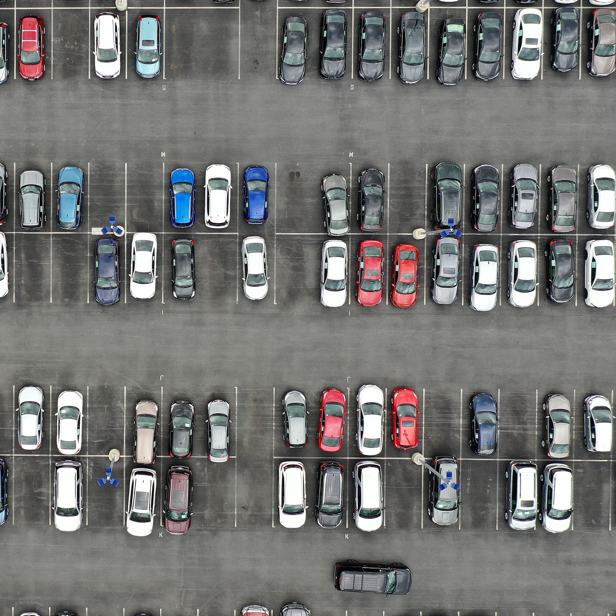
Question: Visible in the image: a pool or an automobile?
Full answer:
The one in the frame is an automobile.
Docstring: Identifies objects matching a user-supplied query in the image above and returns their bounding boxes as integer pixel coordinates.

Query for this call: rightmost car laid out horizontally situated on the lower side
[333,561,413,600]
